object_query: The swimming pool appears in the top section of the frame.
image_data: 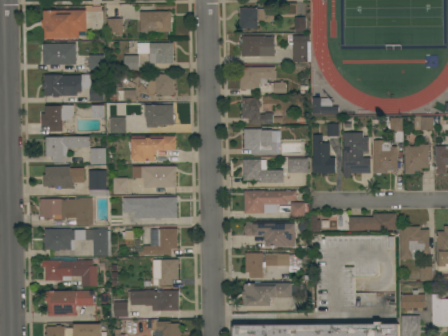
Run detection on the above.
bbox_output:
[78,119,100,131]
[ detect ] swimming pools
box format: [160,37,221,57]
[78,119,100,131]
[98,198,108,220]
